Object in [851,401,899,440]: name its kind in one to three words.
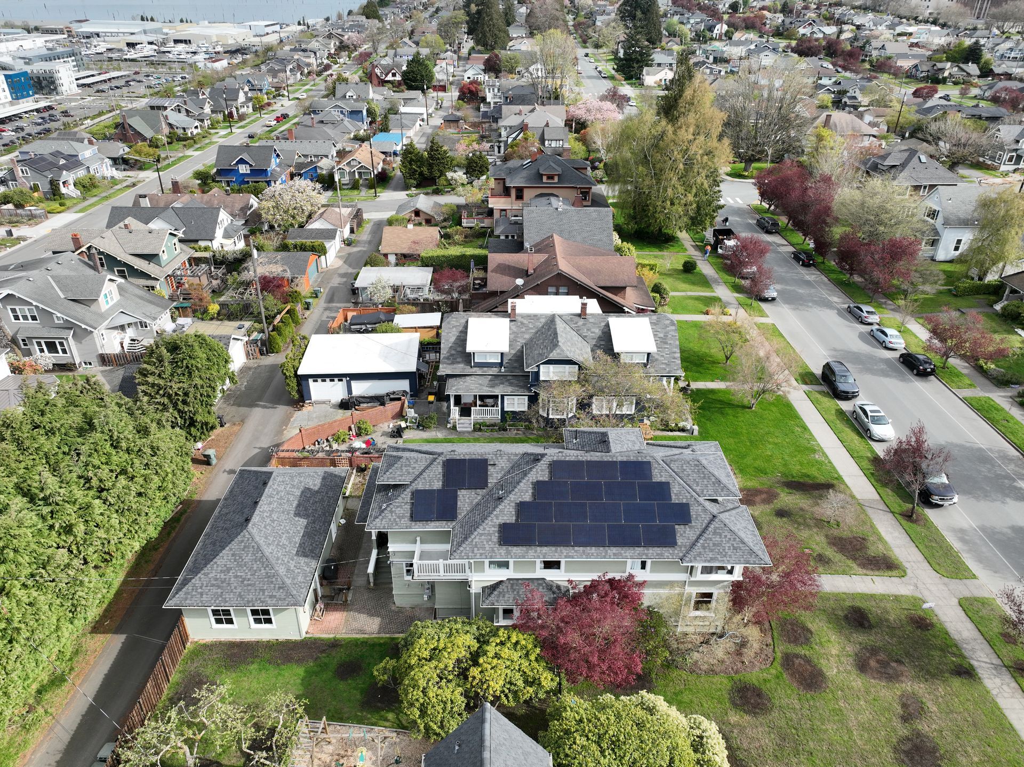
car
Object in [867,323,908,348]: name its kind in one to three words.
car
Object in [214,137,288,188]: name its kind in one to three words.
house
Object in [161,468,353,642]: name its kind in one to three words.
building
